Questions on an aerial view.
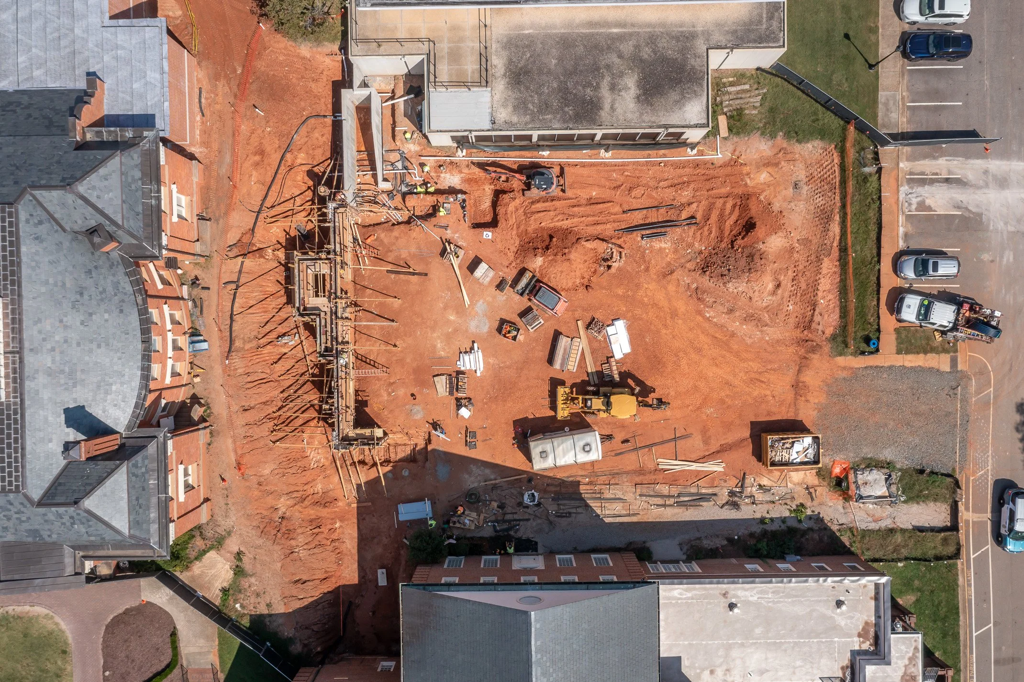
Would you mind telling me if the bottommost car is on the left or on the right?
right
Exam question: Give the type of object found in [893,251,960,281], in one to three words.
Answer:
car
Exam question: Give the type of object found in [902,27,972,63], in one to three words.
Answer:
car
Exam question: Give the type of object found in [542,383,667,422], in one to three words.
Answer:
work vehicle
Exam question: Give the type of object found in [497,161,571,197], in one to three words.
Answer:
work vehicle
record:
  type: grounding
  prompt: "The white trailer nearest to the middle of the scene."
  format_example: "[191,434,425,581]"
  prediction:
[529,428,613,470]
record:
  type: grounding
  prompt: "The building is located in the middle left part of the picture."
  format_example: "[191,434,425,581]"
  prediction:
[0,76,216,594]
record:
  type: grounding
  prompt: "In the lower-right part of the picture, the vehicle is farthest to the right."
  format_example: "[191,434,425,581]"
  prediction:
[993,486,1024,553]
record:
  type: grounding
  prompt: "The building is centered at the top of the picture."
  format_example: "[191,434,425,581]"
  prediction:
[350,0,787,151]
